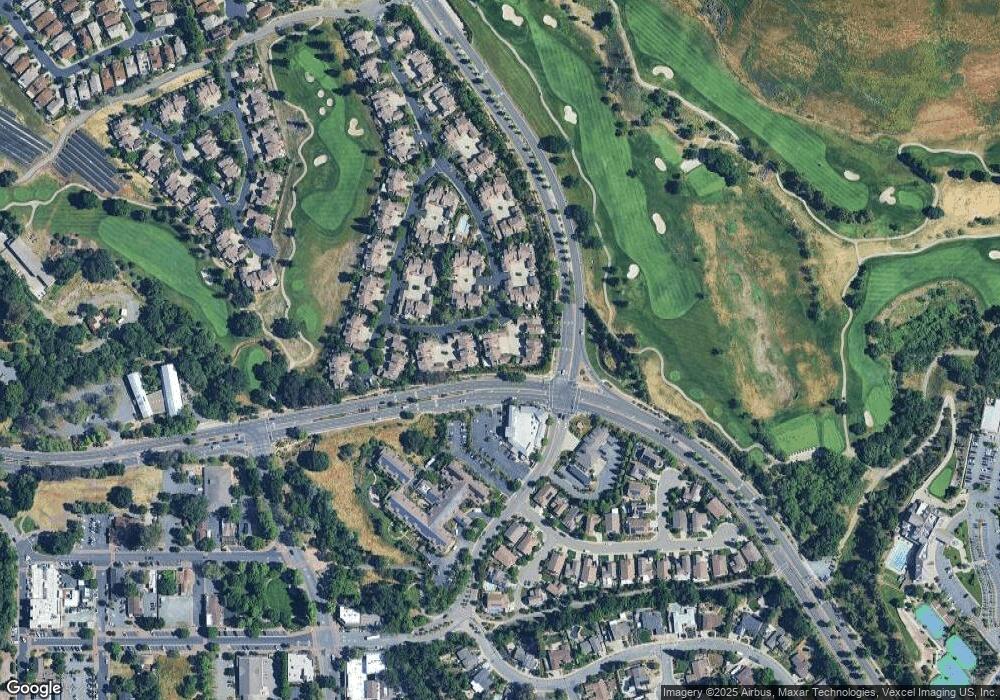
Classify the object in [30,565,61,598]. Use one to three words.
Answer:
building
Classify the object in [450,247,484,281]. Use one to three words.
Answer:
house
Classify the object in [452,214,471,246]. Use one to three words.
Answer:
swimming pool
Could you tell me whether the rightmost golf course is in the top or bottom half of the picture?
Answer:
top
